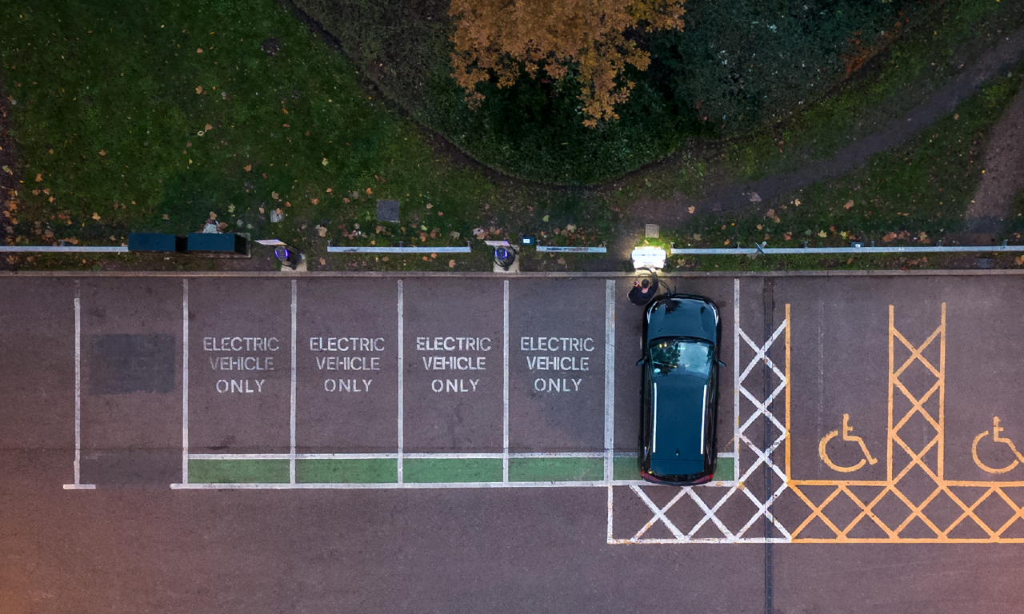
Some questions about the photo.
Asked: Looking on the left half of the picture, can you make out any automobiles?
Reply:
No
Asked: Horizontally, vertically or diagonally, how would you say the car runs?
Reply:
vertically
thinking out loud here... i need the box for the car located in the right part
[631,284,731,487]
